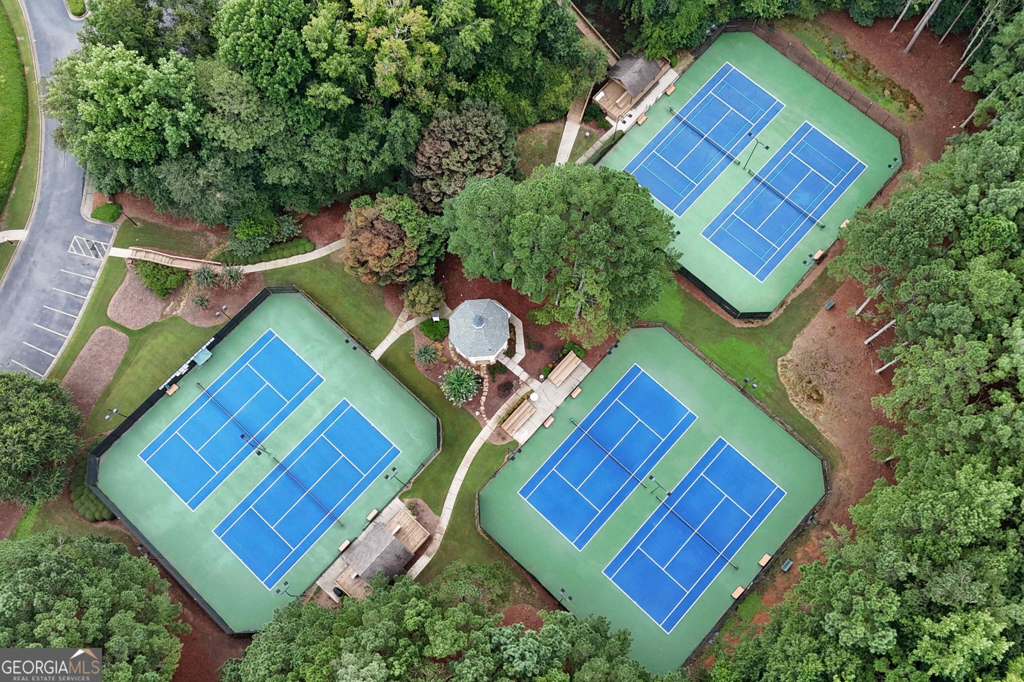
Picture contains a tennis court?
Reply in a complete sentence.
Yes, there is a tennis court in the image.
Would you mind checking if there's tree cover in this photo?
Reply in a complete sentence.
Yes, some tree cover is visible.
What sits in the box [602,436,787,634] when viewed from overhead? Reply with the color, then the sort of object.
blue tennis court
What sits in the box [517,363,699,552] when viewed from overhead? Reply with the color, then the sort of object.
blue tennis court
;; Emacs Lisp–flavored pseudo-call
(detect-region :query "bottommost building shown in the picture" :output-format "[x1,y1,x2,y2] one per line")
[334,509,430,608]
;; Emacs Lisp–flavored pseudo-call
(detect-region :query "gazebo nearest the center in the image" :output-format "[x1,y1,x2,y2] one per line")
[449,301,512,365]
